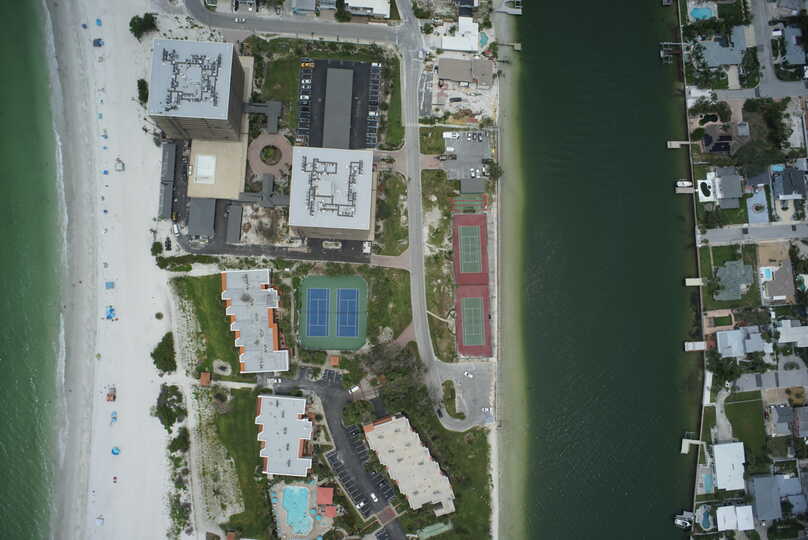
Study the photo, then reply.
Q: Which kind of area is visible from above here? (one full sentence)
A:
This looks like a residential area.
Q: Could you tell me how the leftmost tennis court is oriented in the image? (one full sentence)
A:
What the image shows is the leftmost tennis court lying vertically.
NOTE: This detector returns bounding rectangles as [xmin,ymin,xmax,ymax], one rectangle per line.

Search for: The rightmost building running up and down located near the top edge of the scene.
[784,25,805,66]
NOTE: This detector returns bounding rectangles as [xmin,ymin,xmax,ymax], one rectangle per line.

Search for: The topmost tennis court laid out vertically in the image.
[453,212,489,284]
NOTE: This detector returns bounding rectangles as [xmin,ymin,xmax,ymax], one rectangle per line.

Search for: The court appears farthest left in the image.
[298,276,333,350]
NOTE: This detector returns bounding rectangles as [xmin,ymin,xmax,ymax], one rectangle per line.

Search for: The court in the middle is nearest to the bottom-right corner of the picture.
[455,284,493,356]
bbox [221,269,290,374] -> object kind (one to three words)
building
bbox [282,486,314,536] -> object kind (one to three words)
swimming pool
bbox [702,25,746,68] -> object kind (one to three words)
house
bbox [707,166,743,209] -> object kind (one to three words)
house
